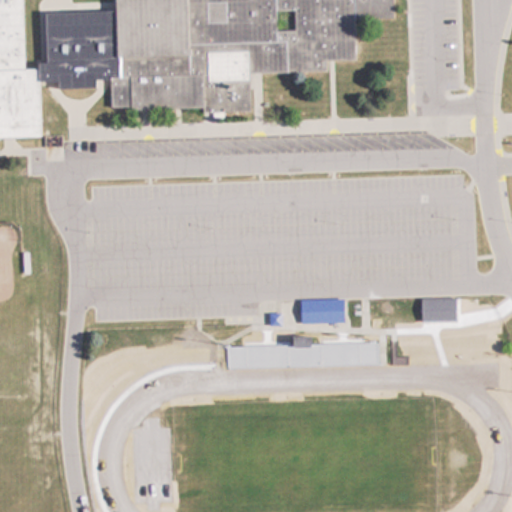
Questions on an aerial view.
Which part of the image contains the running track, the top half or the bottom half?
bottom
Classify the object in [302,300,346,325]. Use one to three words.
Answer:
building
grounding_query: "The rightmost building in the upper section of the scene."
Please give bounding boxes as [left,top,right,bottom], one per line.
[110,0,394,119]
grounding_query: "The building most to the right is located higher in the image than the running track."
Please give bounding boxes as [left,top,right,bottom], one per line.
[422,299,457,322]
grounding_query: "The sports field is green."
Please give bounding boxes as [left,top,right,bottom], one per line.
[159,395,483,512]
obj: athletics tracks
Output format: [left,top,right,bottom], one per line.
[98,362,512,512]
